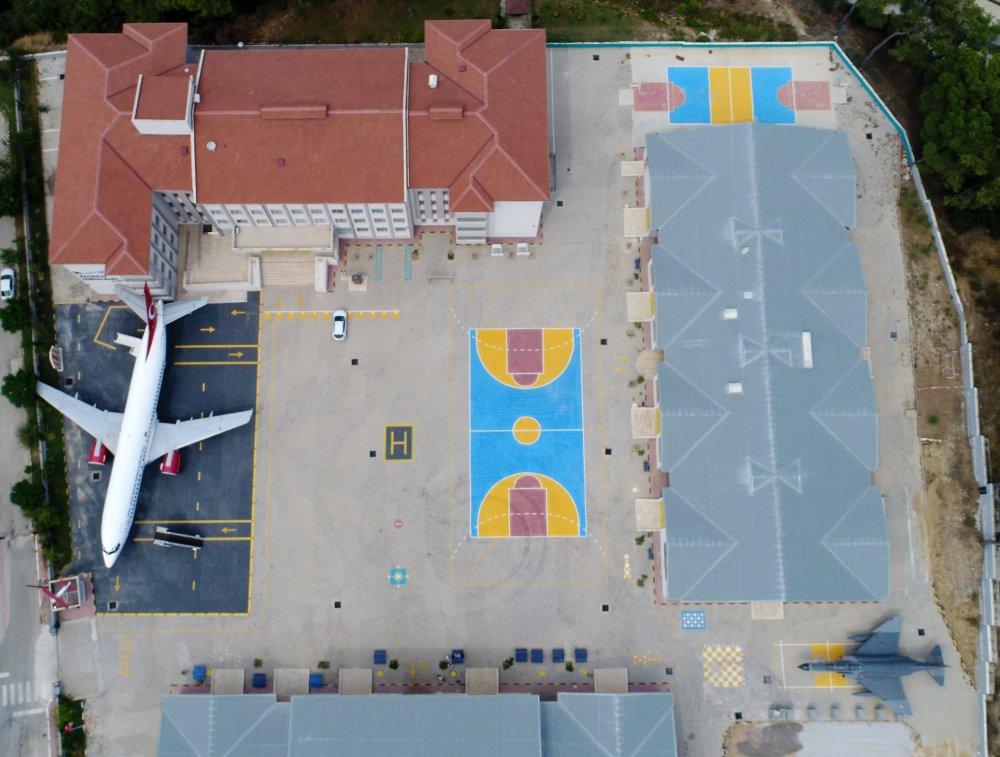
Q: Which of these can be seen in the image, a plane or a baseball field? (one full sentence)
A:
I can see a plane in this picture.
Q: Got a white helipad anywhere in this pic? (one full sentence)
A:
No, there is no white helipad in the image.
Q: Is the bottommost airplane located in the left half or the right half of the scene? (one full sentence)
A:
The bottommost airplane appears in the right half of the scene.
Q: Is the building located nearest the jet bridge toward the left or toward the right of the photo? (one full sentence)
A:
The building located nearest the jet bridge sits on the left side.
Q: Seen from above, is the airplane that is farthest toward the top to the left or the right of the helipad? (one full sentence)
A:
The helipad has the airplane that is farthest toward the top on its left side.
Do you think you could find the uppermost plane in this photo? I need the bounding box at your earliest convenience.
[33,276,252,568]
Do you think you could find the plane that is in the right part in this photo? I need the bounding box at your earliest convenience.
[797,617,952,713]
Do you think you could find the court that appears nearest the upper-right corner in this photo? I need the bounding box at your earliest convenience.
[633,65,832,125]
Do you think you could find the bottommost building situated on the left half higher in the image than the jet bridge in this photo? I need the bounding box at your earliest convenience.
[49,21,550,300]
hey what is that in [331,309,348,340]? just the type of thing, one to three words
car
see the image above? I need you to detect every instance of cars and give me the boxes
[0,267,16,298]
[331,309,348,340]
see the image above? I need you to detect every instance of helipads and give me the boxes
[385,424,414,462]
